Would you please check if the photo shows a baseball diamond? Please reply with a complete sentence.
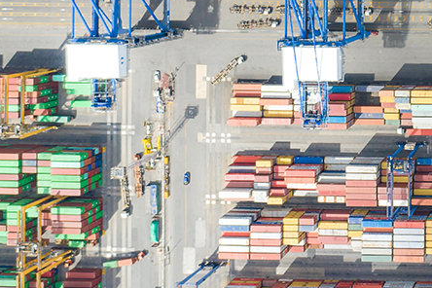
No, I can see no baseball diamond in this picture.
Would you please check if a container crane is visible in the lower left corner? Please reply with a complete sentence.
Yes, you'll find a container crane in the lower left corner.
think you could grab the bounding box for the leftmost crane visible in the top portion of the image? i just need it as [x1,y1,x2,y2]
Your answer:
[1,64,70,135]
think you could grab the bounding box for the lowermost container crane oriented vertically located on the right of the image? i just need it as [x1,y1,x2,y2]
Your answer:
[385,139,427,223]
